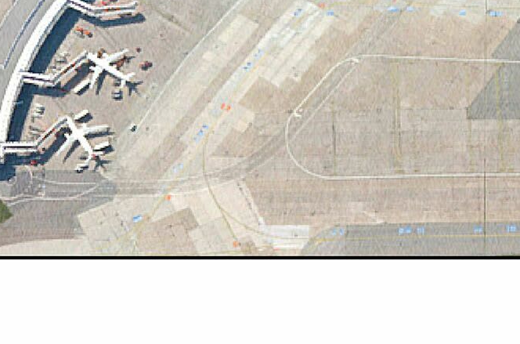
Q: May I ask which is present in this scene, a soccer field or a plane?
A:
plane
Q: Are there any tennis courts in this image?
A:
No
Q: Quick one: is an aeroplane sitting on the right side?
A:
No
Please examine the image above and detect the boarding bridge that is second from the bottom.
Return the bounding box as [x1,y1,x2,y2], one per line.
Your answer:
[24,52,91,89]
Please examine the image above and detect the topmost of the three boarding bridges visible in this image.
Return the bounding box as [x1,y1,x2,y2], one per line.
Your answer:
[68,0,139,21]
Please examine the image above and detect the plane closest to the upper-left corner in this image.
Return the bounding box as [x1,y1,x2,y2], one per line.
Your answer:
[89,53,135,91]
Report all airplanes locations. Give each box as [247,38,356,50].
[89,53,135,91]
[58,117,111,160]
